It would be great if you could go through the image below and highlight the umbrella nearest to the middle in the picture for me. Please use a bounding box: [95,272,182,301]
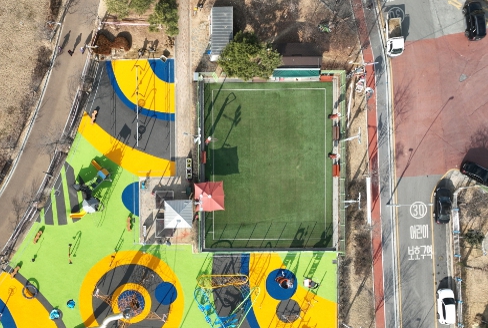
[194,181,225,212]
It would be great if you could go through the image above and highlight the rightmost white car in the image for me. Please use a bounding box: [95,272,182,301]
[437,290,458,325]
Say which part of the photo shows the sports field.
center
